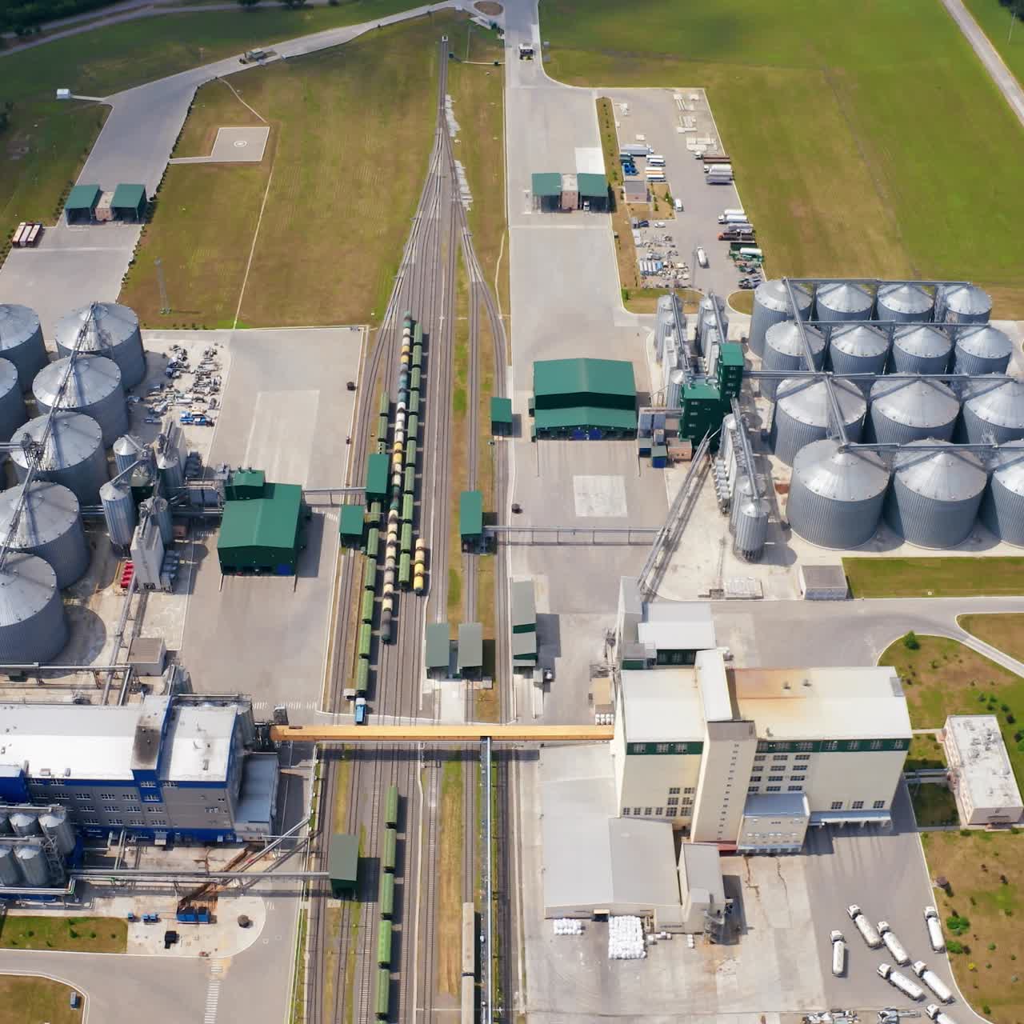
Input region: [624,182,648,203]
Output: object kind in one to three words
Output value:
building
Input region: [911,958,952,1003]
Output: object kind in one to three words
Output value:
truck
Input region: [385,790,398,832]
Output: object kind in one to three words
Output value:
rail car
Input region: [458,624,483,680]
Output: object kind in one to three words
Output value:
shed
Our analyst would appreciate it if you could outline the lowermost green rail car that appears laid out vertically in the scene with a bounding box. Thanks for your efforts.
[373,969,389,1021]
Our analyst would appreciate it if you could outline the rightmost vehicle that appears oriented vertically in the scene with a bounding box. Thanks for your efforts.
[925,905,945,950]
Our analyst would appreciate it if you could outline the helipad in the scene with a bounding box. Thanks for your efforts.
[169,126,269,163]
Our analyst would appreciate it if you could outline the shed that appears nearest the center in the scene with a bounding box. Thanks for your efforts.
[461,492,482,552]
